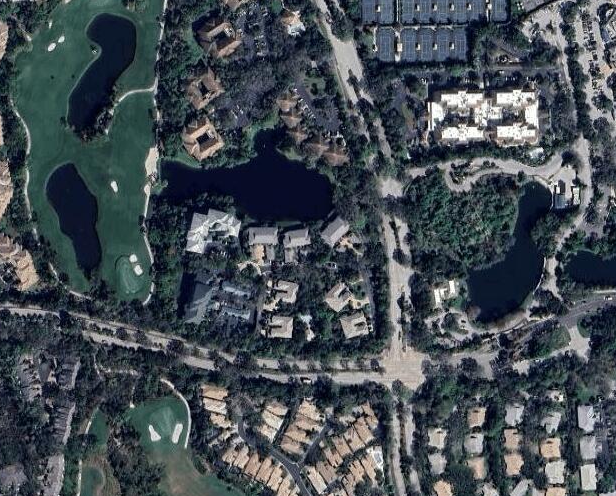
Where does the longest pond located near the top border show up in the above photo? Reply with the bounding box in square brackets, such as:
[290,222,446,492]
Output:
[66,13,136,136]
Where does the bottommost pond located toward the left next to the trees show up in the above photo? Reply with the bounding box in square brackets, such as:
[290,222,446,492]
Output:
[46,163,101,275]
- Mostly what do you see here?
trees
